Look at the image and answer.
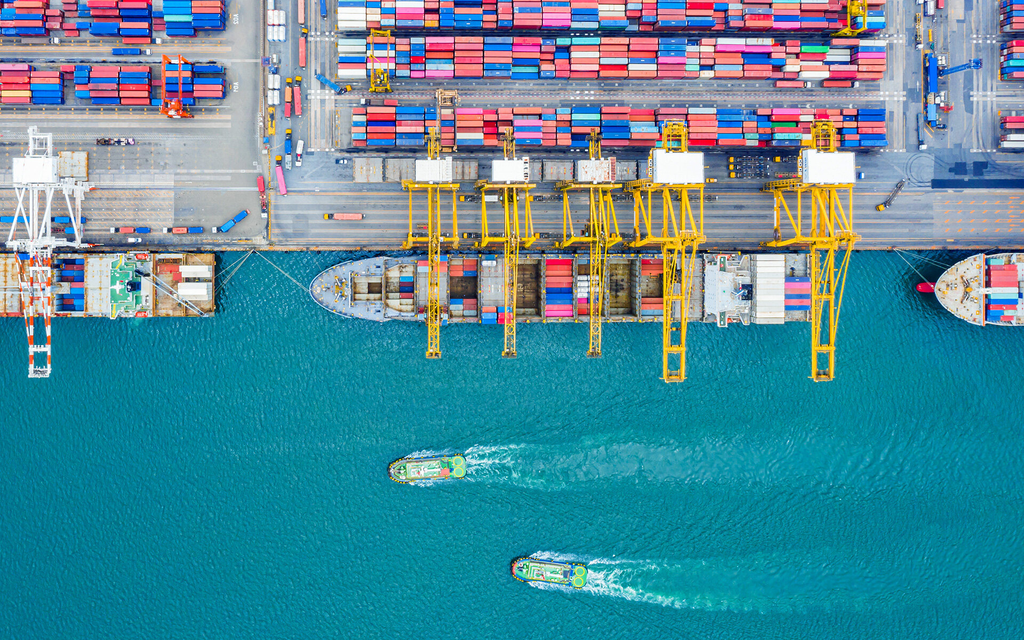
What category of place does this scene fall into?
port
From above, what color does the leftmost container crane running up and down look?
white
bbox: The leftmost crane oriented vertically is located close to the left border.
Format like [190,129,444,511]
[5,125,97,377]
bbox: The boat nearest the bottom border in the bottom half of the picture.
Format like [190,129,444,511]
[510,555,588,588]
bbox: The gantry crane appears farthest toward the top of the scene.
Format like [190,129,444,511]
[828,0,869,37]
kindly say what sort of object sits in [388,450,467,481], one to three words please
boat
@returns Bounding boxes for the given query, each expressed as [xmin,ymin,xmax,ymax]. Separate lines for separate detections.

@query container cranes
[366,24,395,94]
[828,0,869,37]
[5,125,97,377]
[754,122,863,379]
[550,126,625,359]
[471,126,539,359]
[162,53,196,121]
[620,123,705,380]
[398,126,464,360]
[431,93,460,157]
